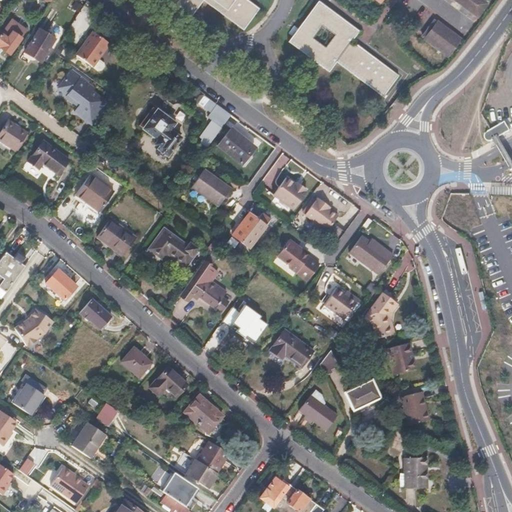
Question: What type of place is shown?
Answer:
residential area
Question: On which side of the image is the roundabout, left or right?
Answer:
right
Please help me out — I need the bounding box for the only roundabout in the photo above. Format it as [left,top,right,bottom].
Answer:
[366,132,441,206]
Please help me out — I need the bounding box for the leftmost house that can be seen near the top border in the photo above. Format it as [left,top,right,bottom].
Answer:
[0,19,28,56]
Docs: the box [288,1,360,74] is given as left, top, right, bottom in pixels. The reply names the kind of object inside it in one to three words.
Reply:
building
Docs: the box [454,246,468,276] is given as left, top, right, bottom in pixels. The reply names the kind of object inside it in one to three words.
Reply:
vehicle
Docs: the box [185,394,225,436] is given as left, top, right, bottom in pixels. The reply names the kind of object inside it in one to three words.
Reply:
house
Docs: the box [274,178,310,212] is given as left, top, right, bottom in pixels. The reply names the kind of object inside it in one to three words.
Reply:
house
